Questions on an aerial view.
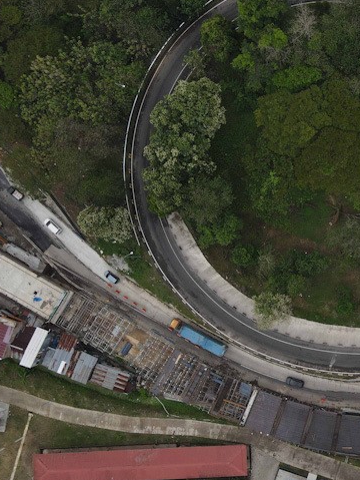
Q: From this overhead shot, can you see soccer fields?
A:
No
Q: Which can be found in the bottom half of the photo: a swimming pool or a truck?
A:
truck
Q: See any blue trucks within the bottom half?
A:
Yes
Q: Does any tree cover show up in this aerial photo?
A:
Yes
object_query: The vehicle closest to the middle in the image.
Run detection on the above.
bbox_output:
[101,270,120,285]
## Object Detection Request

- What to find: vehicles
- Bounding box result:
[4,184,24,202]
[41,218,61,235]
[101,270,120,285]
[284,377,305,387]
[167,318,226,358]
